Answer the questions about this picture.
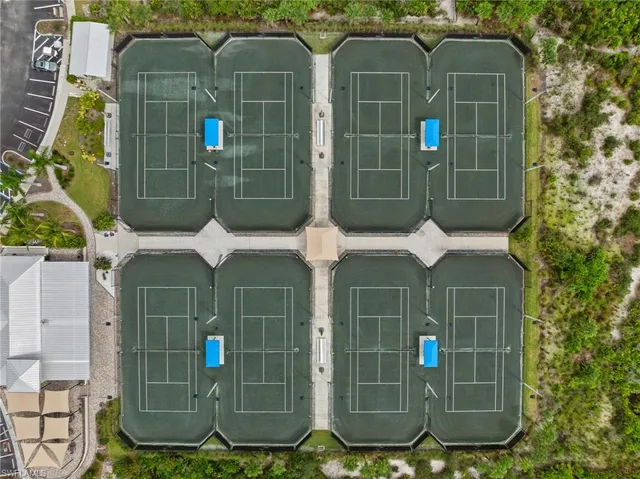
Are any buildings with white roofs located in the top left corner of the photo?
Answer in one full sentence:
Yes, you'll find a building with a white roof in the top left corner of the photo.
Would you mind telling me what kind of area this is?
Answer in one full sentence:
It's a sports ground.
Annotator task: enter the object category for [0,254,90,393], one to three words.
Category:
building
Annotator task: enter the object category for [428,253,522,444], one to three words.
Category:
tennis court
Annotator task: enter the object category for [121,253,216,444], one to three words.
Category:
tennis court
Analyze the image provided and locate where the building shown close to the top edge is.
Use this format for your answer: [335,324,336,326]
[69,21,114,80]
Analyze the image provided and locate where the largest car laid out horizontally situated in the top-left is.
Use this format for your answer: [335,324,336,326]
[28,58,56,71]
